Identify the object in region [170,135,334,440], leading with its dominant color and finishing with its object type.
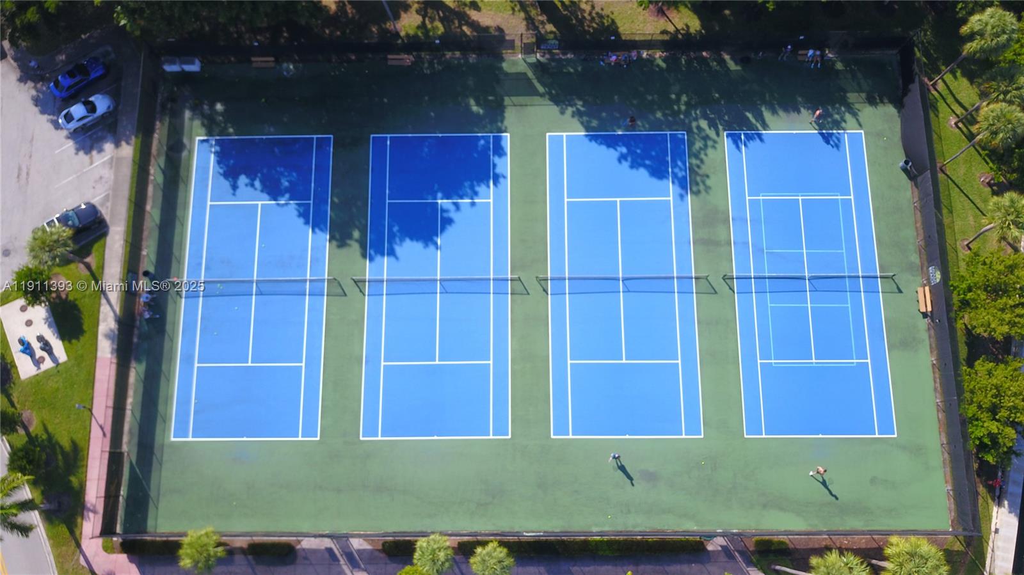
blue tennis court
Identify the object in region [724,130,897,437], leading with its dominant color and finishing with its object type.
blue tennis court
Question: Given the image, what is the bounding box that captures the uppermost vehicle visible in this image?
[46,57,106,98]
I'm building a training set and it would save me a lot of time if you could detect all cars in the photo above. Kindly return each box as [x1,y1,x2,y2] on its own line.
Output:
[56,93,114,132]
[46,57,106,98]
[46,207,106,249]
